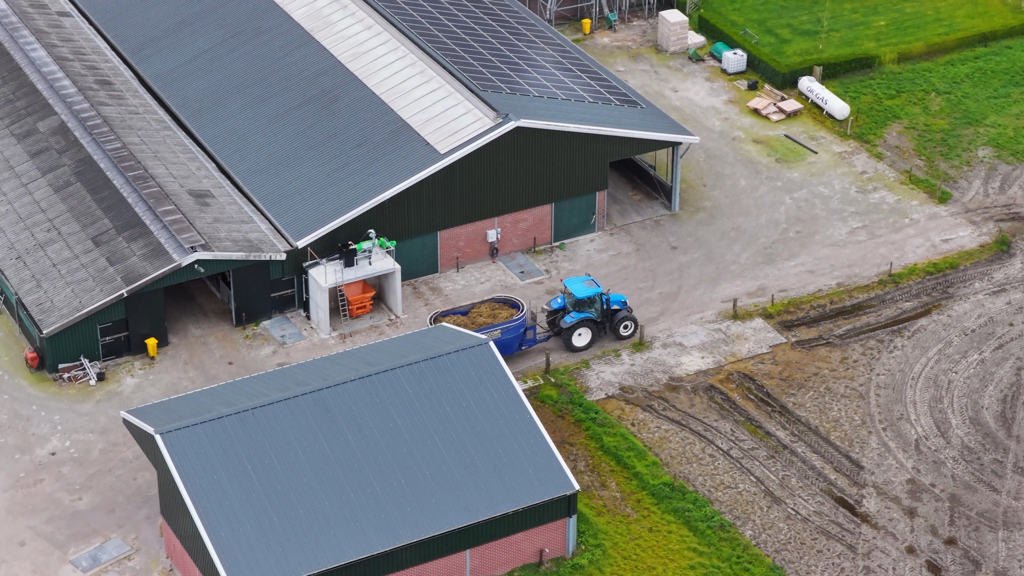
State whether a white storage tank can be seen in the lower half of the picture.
No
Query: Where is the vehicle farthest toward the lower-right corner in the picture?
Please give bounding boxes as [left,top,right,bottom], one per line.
[539,276,638,350]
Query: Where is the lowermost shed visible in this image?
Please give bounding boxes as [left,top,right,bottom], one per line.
[120,322,581,576]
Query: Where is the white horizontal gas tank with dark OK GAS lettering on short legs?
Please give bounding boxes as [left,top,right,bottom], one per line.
[802,76,853,119]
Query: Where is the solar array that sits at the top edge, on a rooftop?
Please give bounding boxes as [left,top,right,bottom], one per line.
[377,0,646,108]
